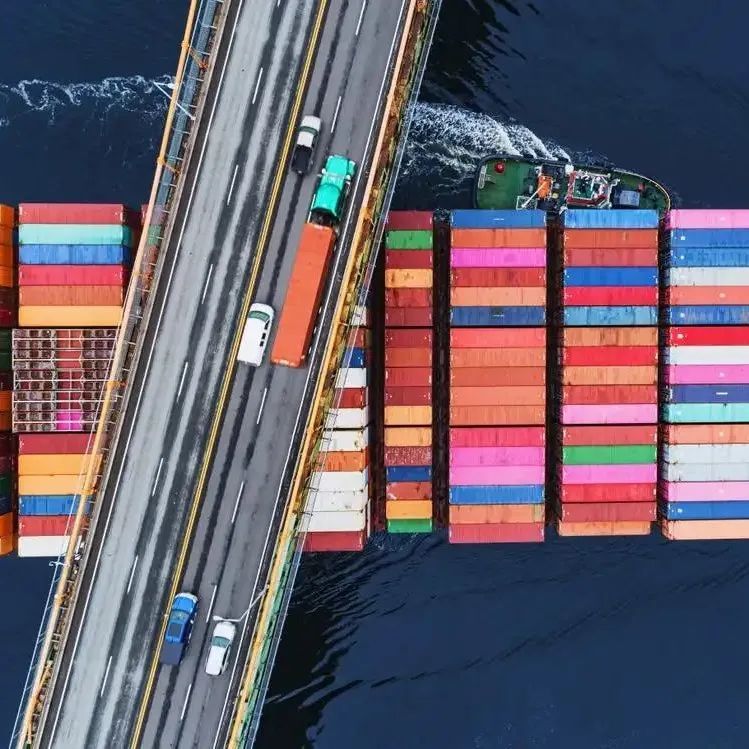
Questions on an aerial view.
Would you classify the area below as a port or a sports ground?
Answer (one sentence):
It's a port.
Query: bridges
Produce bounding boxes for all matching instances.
[7,0,444,749]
